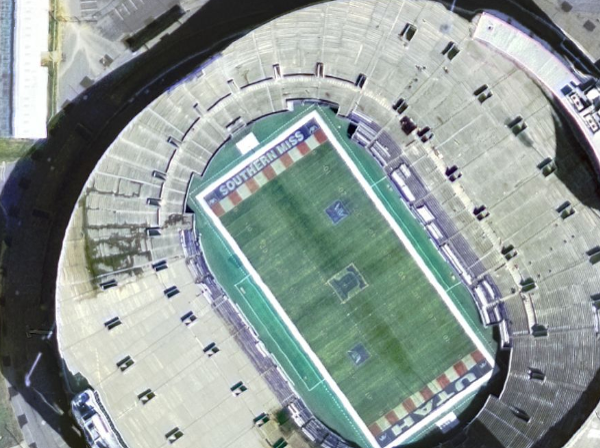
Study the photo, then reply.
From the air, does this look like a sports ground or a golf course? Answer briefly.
sports ground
